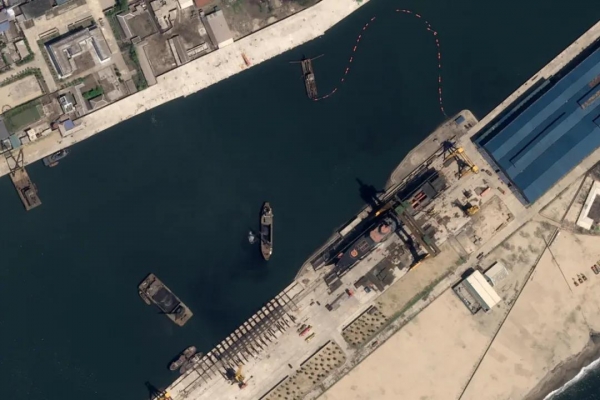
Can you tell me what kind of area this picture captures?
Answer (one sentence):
This looks like a port.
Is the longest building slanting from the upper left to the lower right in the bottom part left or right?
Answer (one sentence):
The longest building slanting from the upper left to the lower right in the bottom part is on the right side of the image.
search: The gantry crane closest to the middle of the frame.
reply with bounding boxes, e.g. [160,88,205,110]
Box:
[372,184,440,272]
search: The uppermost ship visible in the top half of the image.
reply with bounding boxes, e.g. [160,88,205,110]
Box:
[291,55,322,99]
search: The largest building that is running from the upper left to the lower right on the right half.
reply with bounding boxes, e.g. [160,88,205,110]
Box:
[464,270,502,310]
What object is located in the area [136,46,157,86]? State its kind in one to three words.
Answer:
shed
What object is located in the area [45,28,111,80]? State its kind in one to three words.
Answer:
building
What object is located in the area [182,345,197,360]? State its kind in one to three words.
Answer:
boat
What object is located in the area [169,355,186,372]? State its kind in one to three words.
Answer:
boat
